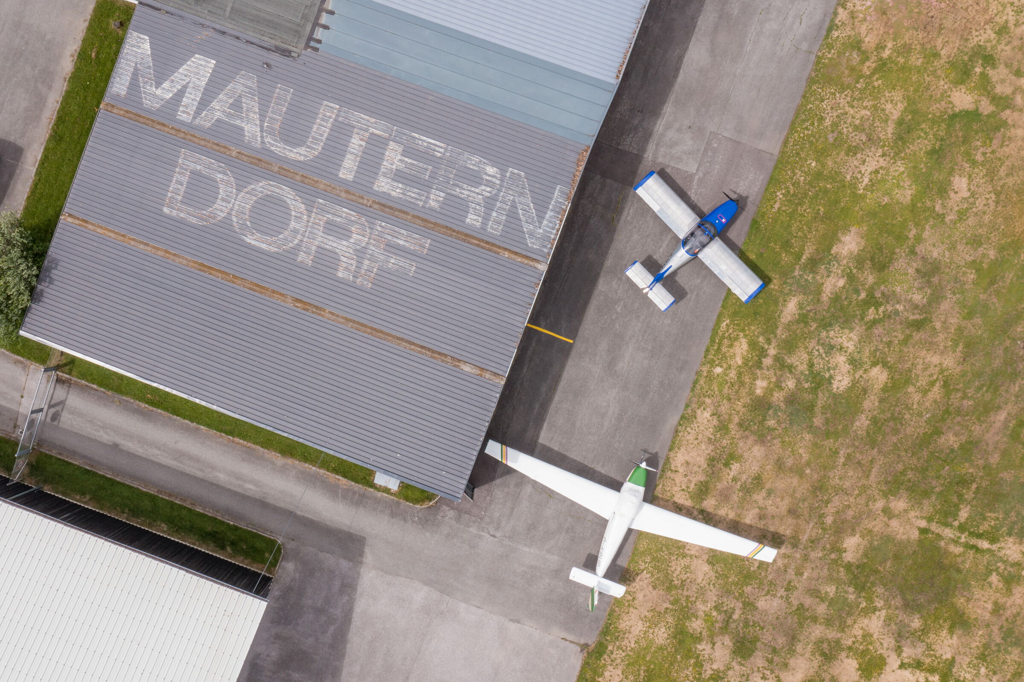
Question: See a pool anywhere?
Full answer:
No, there appears to be no pool in this shot.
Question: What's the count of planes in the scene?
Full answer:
The picture shows 2 planes.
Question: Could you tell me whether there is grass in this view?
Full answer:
Yes, grass can be seen from above here.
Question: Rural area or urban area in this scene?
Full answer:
The area shown here is urban.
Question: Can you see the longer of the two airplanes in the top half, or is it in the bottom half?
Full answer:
You can find the longer of the two airplanes in the bottom half.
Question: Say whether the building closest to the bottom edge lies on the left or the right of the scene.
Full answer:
The building closest to the bottom edge appears in the left half of the scene.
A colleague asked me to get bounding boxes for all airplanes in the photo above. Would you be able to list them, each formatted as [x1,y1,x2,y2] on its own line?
[485,441,775,613]
[626,172,765,311]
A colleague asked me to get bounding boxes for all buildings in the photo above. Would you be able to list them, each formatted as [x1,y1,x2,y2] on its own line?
[0,472,274,682]
[20,0,590,503]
